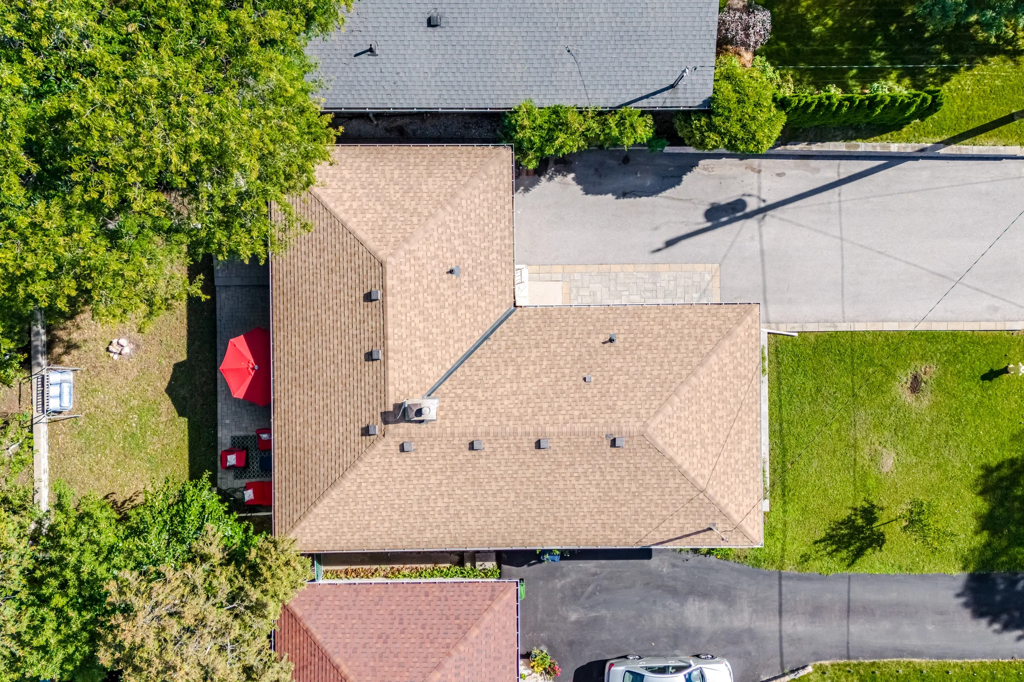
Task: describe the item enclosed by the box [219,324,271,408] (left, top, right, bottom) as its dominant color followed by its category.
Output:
red umbrella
